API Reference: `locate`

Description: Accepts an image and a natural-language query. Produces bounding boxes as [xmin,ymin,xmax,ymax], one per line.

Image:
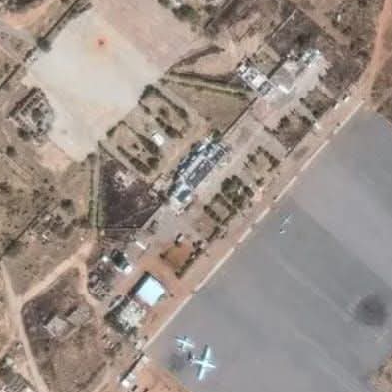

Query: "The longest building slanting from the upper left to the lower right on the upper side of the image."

[241,63,272,96]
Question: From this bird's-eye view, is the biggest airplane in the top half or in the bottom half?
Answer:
bottom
